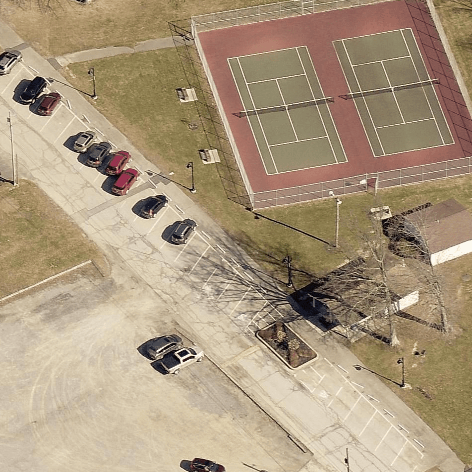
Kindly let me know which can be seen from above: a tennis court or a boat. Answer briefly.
tennis court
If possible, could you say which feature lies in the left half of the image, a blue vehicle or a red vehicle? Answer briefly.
red vehicle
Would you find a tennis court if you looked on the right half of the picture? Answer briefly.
Yes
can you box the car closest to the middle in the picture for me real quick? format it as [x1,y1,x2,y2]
[169,222,196,248]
